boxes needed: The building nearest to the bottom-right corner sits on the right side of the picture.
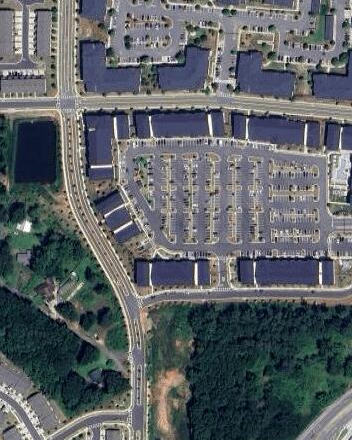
[242,260,334,286]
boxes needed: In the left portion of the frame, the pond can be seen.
[16,121,59,183]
